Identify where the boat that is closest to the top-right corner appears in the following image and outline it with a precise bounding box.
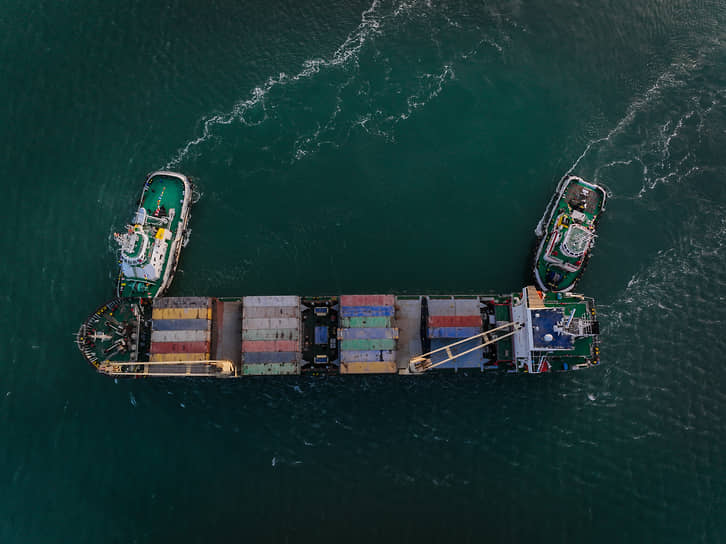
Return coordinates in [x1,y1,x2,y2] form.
[532,174,606,294]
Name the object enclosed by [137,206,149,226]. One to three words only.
boat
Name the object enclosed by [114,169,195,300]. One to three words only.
boat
